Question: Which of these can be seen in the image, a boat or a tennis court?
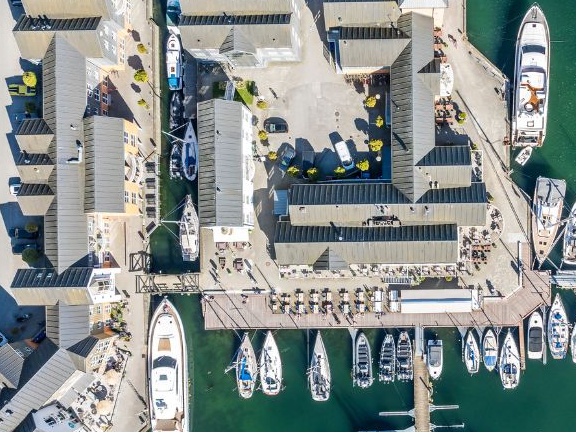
boat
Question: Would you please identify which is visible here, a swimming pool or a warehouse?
warehouse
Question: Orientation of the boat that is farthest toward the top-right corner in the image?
vertically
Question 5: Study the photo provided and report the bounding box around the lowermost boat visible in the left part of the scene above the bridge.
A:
[165,194,199,262]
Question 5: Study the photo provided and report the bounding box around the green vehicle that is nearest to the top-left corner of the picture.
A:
[9,83,39,98]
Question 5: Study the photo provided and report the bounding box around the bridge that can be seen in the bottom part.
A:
[131,274,203,294]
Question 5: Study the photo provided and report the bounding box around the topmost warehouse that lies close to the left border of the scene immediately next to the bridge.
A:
[15,28,147,285]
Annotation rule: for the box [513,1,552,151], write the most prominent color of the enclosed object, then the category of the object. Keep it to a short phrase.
white boat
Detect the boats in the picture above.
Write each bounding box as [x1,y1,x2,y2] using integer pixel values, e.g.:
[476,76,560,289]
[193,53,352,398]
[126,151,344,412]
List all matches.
[378,335,396,382]
[169,145,184,180]
[563,204,576,270]
[426,339,444,380]
[513,1,552,151]
[514,146,534,164]
[147,298,191,432]
[546,288,576,360]
[396,332,413,381]
[482,330,498,370]
[172,120,197,182]
[531,176,567,269]
[166,32,183,92]
[165,194,199,262]
[166,0,183,30]
[354,333,373,388]
[525,315,544,359]
[463,330,480,373]
[306,330,331,400]
[227,329,258,399]
[498,330,522,389]
[255,329,283,396]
